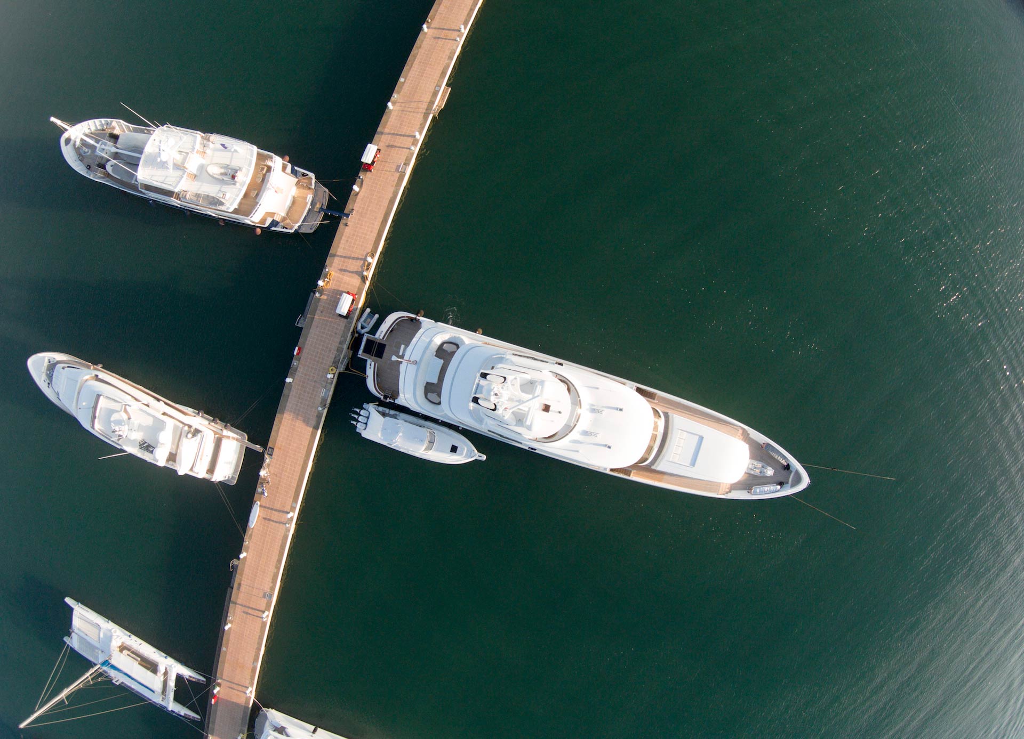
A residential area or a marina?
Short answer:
marina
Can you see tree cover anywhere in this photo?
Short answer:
No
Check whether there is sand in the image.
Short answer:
No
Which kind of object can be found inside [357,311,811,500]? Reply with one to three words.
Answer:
boat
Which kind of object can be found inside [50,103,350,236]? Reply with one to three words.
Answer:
boat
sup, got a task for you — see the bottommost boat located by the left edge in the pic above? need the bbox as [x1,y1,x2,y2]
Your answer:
[17,595,208,723]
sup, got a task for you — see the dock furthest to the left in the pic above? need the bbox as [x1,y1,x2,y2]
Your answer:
[201,564,239,739]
